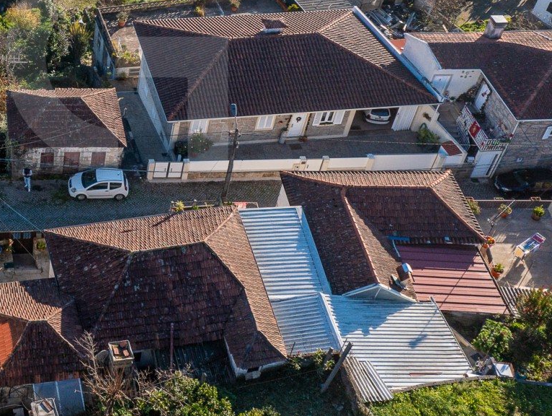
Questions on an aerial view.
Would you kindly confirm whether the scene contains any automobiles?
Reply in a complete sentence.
Yes, looking at the shot, I can spot an automobile.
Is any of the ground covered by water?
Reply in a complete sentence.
No, no water is visible.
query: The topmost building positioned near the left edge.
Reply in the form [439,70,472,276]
[6,86,128,175]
